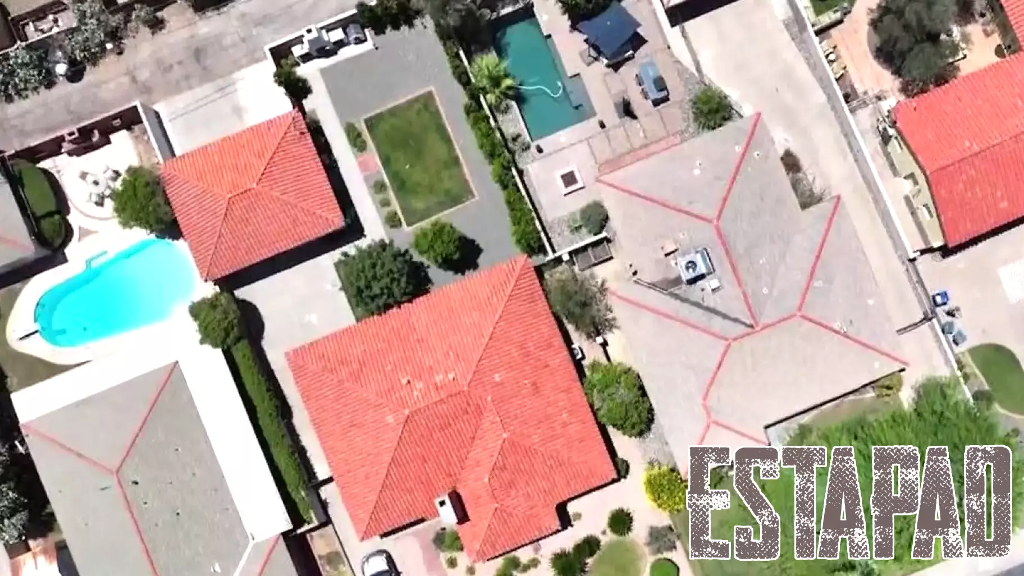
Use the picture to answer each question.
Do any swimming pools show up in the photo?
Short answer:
Yes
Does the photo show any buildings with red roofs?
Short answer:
Yes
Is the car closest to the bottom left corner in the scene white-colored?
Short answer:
Yes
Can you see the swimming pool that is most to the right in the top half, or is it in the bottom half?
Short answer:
top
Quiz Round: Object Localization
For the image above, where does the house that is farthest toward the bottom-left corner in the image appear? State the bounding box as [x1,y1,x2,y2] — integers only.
[8,323,304,576]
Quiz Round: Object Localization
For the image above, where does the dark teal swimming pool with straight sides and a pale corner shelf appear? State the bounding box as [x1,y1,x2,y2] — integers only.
[491,9,599,143]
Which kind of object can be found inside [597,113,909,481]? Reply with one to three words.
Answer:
house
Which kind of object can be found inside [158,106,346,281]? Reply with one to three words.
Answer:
building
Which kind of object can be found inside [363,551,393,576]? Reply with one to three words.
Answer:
car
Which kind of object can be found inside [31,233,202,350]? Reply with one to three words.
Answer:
swimming pool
